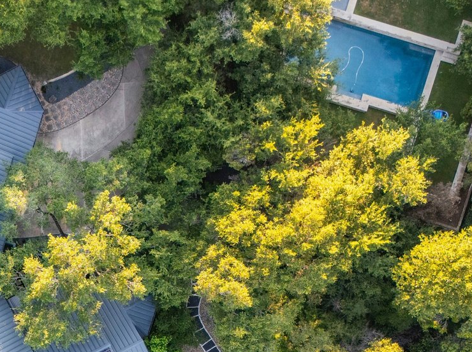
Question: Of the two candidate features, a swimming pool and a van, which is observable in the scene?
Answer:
swimming pool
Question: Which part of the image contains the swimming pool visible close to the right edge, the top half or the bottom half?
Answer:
top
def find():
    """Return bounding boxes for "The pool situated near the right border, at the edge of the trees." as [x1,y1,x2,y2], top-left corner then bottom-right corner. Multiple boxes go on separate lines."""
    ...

[311,4,459,116]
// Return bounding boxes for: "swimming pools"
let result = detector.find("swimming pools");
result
[311,4,459,116]
[335,0,357,13]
